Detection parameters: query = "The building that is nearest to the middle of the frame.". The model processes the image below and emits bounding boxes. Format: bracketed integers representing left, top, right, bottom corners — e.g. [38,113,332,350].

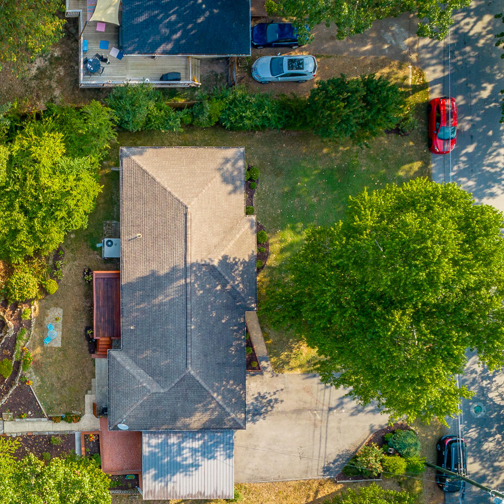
[104,145,258,432]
